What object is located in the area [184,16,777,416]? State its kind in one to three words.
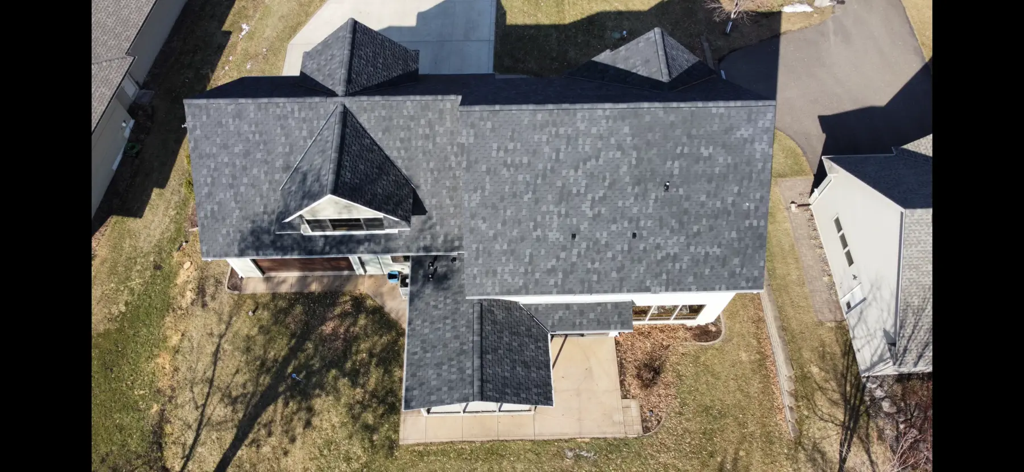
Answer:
house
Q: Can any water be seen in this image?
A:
No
